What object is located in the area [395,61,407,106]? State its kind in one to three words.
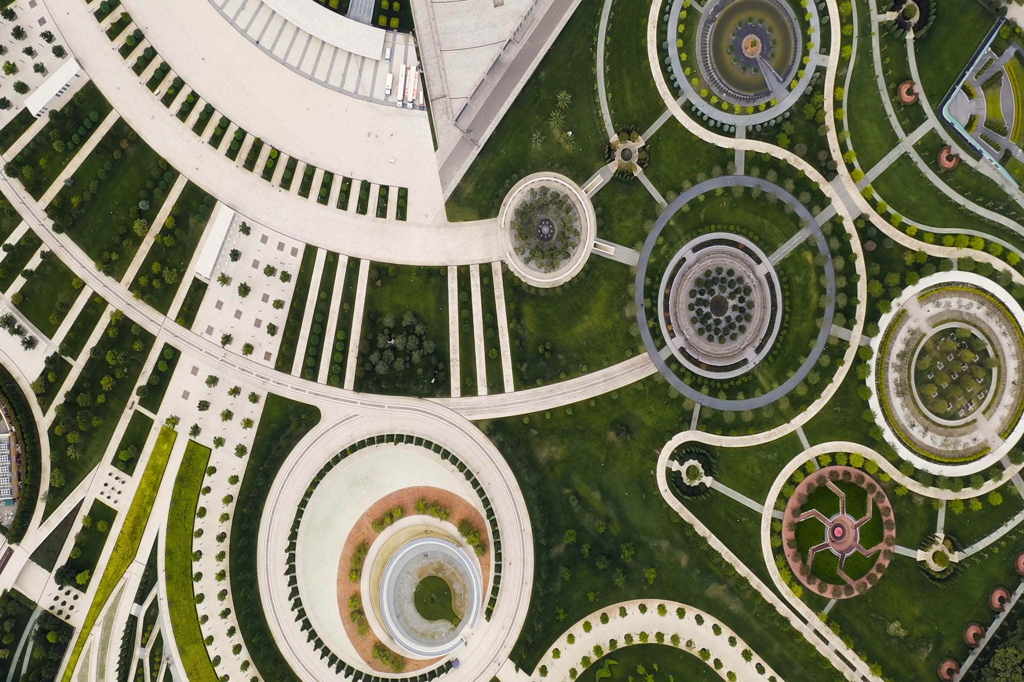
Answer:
vehicle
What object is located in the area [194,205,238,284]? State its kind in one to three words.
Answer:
building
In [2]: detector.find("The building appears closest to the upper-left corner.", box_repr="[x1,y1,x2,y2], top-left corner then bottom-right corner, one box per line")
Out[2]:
[24,57,87,120]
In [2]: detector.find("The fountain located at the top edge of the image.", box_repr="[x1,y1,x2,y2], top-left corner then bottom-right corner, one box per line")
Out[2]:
[695,0,802,107]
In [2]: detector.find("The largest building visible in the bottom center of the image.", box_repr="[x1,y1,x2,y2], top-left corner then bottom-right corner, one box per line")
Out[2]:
[379,534,483,657]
